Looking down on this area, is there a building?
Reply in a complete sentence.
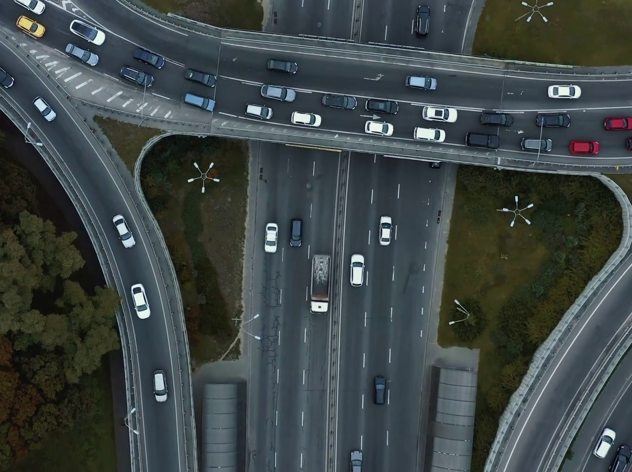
No, there's no building here.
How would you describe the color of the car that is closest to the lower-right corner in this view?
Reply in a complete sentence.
The car that is closest to the lower-right corner is black.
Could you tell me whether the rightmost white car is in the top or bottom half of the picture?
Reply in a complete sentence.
The rightmost white car is in the bottom half of the image.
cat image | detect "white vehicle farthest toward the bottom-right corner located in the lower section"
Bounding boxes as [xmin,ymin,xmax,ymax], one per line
[593,428,615,458]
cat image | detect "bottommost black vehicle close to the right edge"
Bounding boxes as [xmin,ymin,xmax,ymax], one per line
[608,445,631,472]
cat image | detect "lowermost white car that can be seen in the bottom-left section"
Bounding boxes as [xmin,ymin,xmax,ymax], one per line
[153,370,169,402]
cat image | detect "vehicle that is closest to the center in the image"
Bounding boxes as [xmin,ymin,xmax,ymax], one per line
[288,218,304,248]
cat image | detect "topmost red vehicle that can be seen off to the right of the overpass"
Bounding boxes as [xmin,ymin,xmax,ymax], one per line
[605,116,632,131]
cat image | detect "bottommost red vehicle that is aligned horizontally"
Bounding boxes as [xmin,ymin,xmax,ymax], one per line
[569,140,600,155]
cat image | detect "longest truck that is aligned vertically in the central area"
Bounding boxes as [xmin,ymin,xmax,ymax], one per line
[308,254,331,313]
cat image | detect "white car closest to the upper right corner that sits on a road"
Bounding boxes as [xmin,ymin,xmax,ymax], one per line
[548,84,581,99]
